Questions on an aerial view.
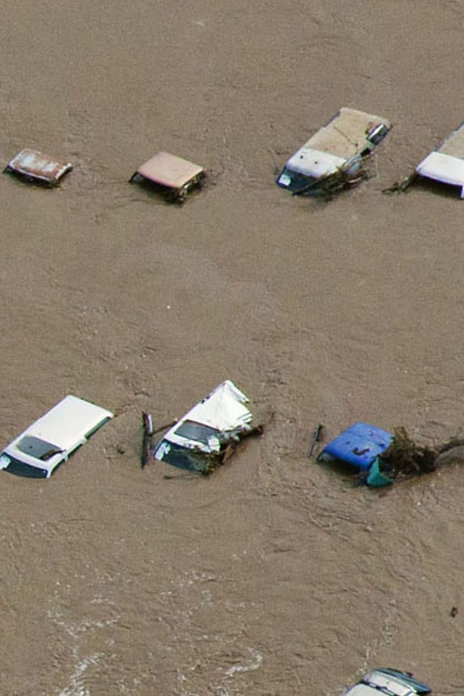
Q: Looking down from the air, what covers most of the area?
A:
water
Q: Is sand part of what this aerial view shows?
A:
No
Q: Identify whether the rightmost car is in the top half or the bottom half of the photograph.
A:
top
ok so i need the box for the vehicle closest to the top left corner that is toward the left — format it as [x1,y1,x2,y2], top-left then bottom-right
[4,149,73,191]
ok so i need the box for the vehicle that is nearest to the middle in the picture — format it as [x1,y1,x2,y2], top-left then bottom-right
[153,380,253,477]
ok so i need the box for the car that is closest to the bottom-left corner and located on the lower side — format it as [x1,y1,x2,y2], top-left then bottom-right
[0,396,116,486]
